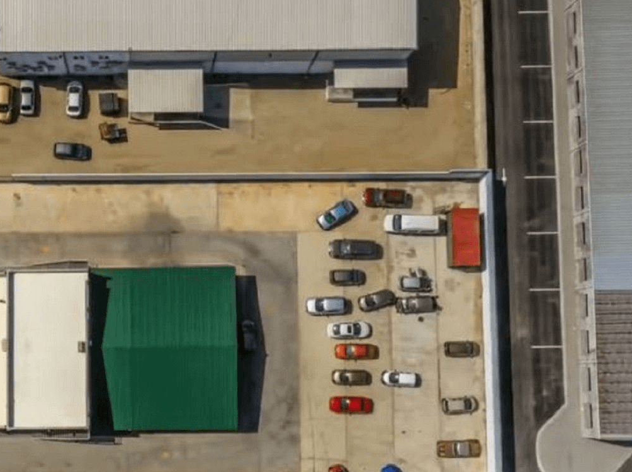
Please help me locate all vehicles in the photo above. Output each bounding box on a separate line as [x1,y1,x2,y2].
[305,295,347,315]
[380,369,418,388]
[443,340,478,359]
[53,142,91,162]
[317,198,357,231]
[99,119,125,142]
[326,320,371,340]
[357,288,396,312]
[399,275,431,293]
[328,268,366,287]
[383,212,443,236]
[328,238,379,260]
[328,395,372,415]
[441,395,477,415]
[18,81,35,117]
[0,81,14,124]
[382,463,402,472]
[396,295,438,315]
[332,368,370,387]
[334,341,376,361]
[435,439,481,459]
[363,188,408,208]
[65,81,83,119]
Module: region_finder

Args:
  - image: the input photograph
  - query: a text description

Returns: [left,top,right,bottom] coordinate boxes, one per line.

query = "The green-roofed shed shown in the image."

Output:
[93,267,237,431]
